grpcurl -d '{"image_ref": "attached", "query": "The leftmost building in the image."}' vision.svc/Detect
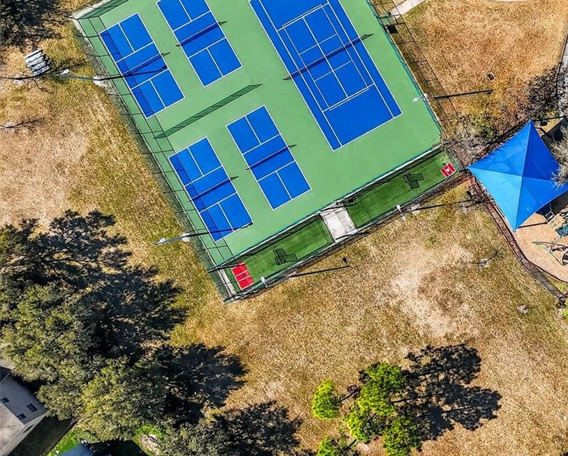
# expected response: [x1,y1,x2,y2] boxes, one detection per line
[0,358,47,452]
